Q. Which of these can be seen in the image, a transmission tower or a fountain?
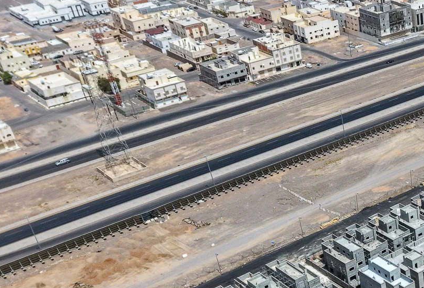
transmission tower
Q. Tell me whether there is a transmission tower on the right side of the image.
No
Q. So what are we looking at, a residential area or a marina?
residential area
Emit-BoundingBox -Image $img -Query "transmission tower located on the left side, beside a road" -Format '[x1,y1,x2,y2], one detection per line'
[75,52,135,170]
